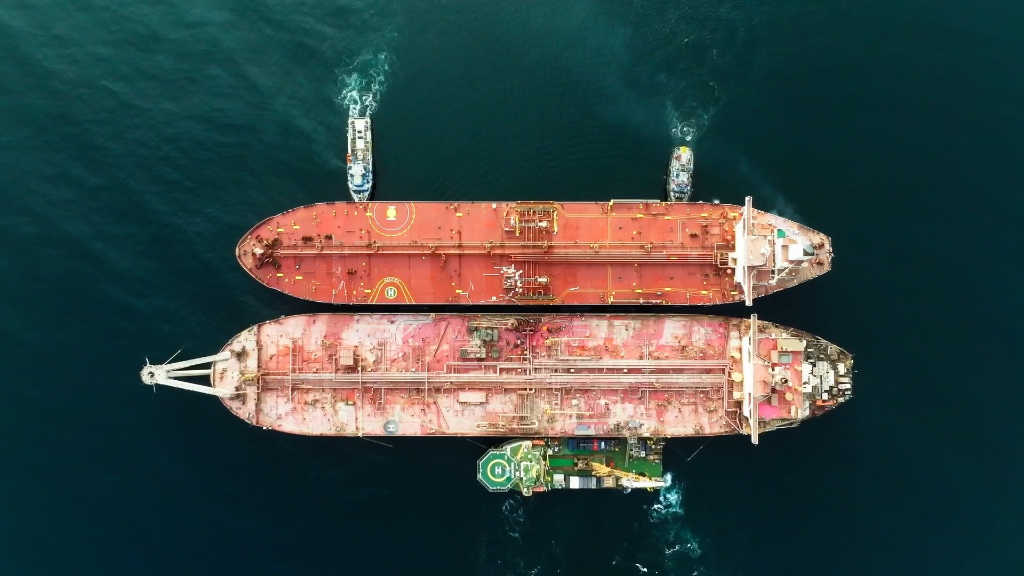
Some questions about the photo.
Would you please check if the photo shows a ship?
Yes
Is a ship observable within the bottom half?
Yes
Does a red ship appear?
Yes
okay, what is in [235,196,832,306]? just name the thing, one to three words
ship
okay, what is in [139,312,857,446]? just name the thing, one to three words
ship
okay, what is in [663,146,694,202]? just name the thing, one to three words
boat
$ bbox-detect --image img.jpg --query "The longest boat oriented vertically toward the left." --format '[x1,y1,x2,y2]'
[346,117,375,201]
